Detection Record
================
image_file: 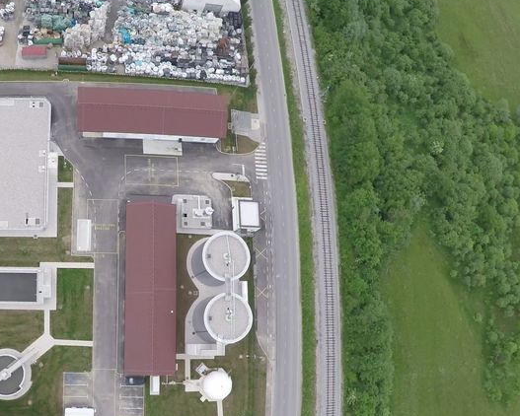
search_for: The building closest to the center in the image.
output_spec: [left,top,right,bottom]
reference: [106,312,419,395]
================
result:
[232,198,260,232]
